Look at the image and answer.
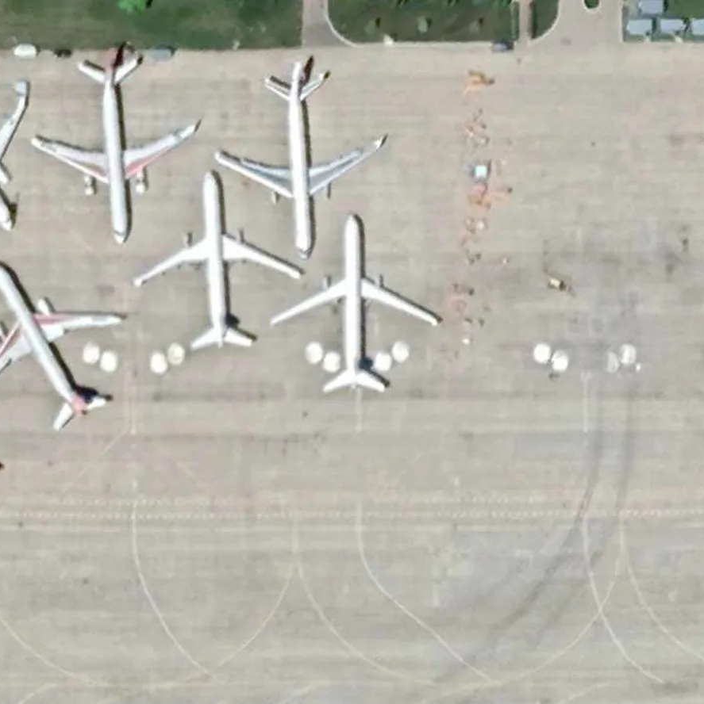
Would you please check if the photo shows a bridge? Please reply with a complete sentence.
No, the photo shows no bridge.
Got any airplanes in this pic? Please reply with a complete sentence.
Yes, I can see an airplane in this picture.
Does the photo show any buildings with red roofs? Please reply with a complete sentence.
No, this view has no building with a red roof in it.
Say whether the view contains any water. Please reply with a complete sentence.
No, the scene doesn't show any water.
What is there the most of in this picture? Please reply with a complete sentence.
Most of the picture is covered by paved ground.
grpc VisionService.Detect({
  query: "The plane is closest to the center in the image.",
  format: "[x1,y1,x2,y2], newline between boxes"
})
[271,214,439,390]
